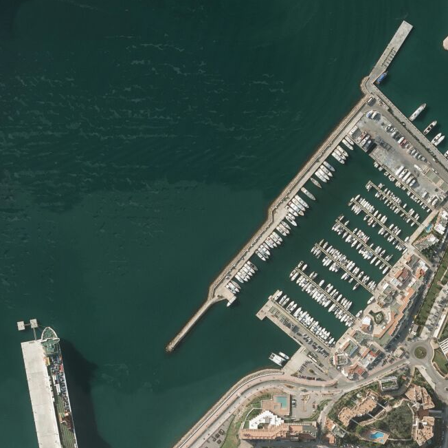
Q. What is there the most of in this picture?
water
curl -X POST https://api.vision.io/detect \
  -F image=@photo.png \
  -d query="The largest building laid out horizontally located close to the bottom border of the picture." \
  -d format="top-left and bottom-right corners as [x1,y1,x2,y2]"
[241,422,317,440]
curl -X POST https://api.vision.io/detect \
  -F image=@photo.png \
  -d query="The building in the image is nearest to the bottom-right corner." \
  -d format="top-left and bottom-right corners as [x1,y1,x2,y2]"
[413,417,435,446]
